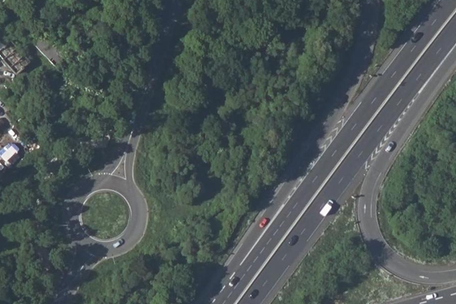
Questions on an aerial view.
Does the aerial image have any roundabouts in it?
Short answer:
Yes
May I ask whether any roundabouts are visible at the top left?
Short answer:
No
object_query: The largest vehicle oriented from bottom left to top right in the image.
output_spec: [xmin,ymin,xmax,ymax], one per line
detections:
[320,200,334,216]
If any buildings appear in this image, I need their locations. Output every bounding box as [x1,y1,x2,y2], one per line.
[0,143,18,163]
[36,38,64,66]
[0,46,30,74]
